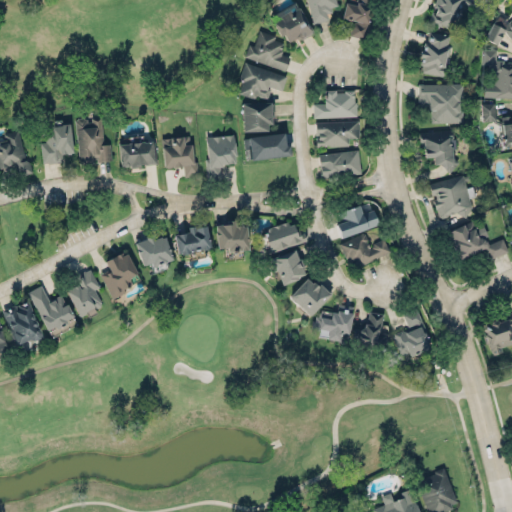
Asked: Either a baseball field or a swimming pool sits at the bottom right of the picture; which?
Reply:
swimming pool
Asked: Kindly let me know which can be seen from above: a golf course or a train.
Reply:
golf course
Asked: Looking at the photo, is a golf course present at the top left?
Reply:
Yes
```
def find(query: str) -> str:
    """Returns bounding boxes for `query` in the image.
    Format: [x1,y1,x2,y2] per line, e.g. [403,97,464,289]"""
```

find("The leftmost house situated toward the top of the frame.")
[0,130,34,174]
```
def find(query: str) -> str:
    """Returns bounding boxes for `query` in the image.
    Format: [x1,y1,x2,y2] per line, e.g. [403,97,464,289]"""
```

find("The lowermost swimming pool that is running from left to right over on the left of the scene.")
[188,254,215,269]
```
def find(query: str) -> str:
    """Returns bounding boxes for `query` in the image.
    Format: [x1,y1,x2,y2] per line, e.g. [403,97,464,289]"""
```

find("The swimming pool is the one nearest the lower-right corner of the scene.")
[368,474,401,499]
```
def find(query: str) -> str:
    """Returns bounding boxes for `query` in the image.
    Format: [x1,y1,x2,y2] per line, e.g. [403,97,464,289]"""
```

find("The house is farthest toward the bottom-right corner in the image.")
[418,467,458,512]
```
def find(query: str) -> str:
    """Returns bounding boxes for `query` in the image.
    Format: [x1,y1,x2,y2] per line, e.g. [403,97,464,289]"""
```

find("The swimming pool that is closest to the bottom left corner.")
[122,282,148,301]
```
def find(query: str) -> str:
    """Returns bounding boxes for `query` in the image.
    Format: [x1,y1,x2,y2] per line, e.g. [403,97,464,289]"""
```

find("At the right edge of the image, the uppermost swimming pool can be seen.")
[486,124,503,146]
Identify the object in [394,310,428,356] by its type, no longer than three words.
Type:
house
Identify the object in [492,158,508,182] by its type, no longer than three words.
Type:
swimming pool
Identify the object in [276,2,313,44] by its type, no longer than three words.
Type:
house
